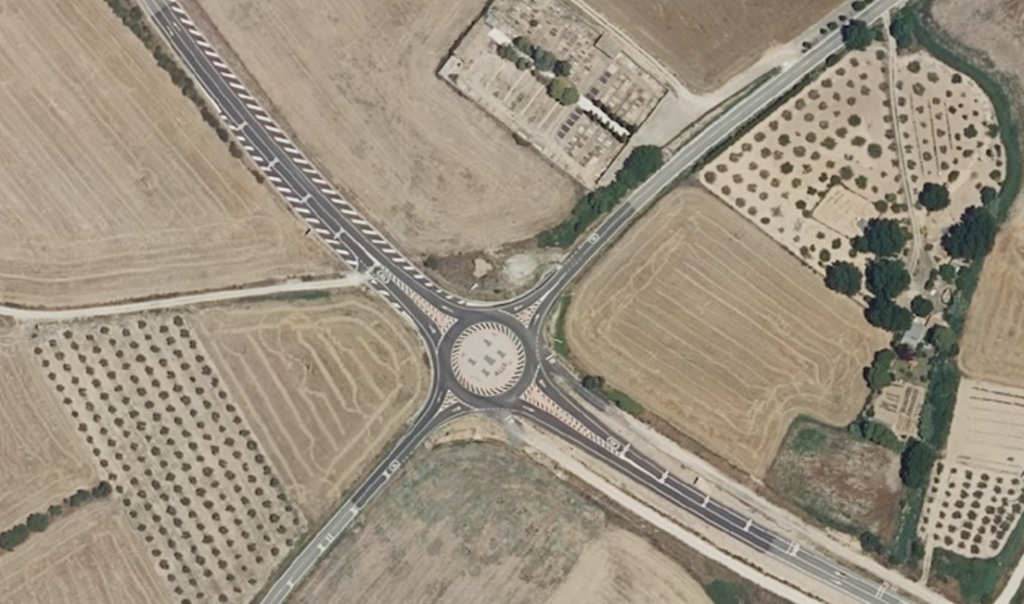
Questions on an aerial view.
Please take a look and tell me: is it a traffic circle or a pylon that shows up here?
traffic circle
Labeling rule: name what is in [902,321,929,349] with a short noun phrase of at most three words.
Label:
house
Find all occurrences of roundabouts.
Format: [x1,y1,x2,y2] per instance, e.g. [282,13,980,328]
[383,267,619,455]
